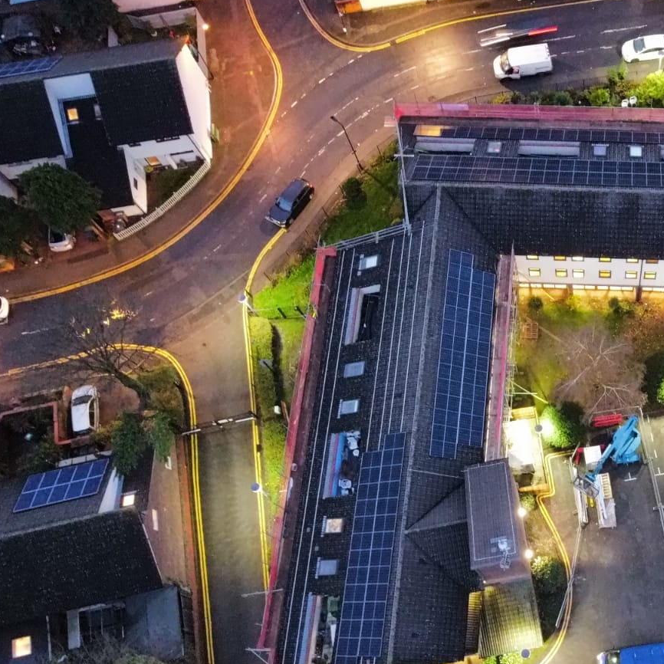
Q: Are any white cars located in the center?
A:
No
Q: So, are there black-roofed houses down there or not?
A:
Yes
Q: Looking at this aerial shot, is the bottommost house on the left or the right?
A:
left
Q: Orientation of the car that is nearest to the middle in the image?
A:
on a diagonal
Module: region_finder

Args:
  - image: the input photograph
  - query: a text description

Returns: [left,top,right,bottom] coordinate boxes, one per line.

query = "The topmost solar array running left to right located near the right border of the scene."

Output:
[439,126,664,146]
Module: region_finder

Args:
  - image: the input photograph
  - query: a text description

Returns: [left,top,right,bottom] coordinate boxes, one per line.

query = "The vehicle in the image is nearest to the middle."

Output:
[260,177,314,230]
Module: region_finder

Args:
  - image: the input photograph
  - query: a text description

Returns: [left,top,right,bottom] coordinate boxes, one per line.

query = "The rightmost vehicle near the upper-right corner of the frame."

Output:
[624,34,664,64]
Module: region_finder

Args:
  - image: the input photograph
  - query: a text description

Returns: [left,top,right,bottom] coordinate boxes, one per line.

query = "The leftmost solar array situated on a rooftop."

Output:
[0,58,59,77]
